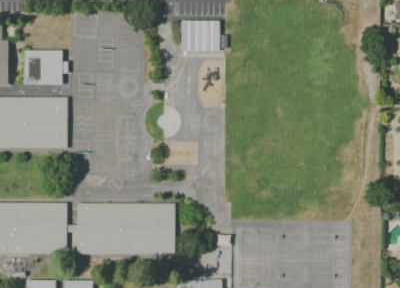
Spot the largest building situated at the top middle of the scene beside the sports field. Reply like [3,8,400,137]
[181,20,220,52]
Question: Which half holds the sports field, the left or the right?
right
